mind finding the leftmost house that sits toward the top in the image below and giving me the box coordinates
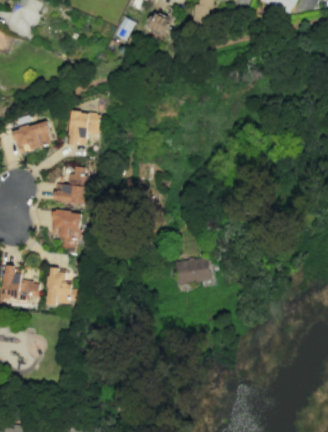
[12,117,56,153]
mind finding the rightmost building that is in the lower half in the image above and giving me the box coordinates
[178,258,214,284]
